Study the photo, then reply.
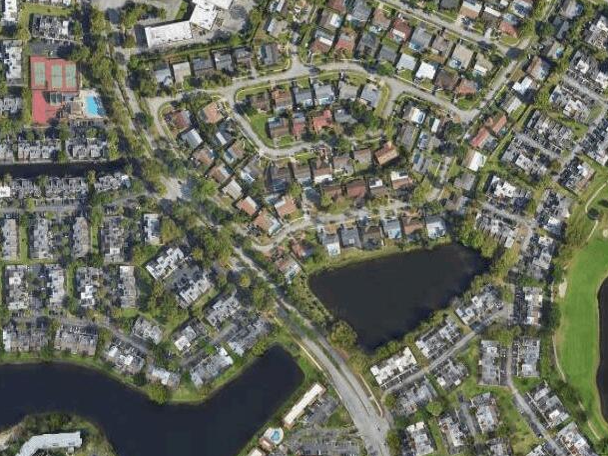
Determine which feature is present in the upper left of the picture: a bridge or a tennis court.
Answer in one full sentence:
It is a tennis court that can be seen in the upper left of the picture.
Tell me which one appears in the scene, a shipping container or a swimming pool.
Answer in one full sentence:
Of the two, only a swimming pool appears.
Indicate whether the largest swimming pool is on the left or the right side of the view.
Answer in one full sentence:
The largest swimming pool appears in the left half of the scene.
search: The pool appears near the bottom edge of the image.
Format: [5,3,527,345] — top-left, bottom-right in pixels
[265,427,283,444]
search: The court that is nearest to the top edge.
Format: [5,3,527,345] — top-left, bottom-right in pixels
[29,57,78,92]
